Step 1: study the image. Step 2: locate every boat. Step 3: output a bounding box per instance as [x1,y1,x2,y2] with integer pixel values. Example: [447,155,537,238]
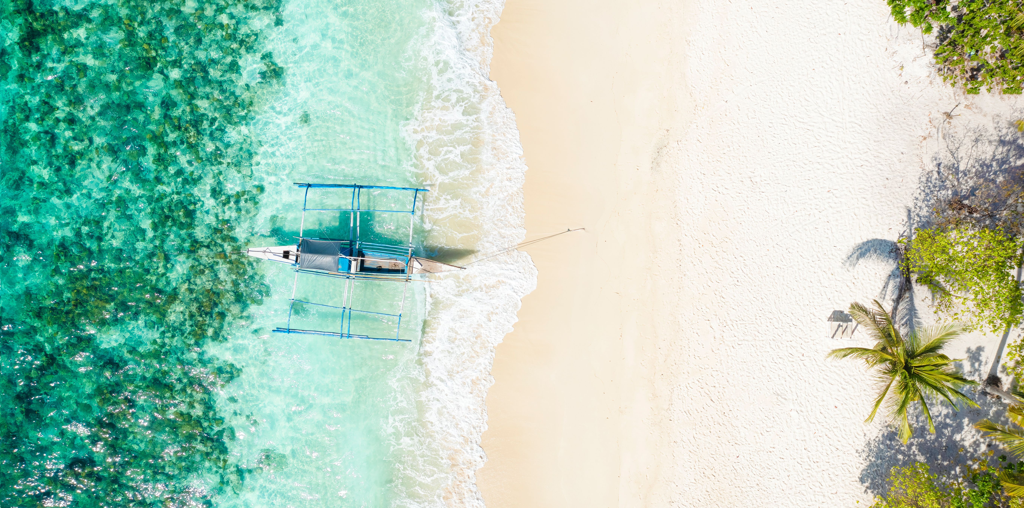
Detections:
[241,182,467,342]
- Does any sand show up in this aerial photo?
Yes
